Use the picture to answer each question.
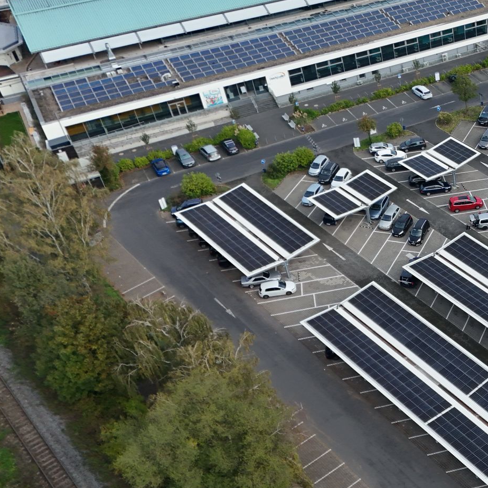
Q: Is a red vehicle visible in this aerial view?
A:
Yes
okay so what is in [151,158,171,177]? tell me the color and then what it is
blue car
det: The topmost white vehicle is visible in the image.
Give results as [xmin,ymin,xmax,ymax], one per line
[411,86,432,101]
